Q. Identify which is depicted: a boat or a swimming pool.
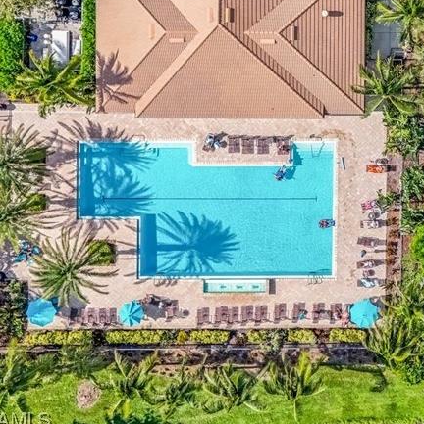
swimming pool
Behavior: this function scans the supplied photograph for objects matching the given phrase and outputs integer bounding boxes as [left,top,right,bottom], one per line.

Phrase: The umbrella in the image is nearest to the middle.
[118,297,145,324]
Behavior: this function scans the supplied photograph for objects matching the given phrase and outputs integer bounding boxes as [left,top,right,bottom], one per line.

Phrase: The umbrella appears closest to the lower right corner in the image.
[351,298,378,325]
